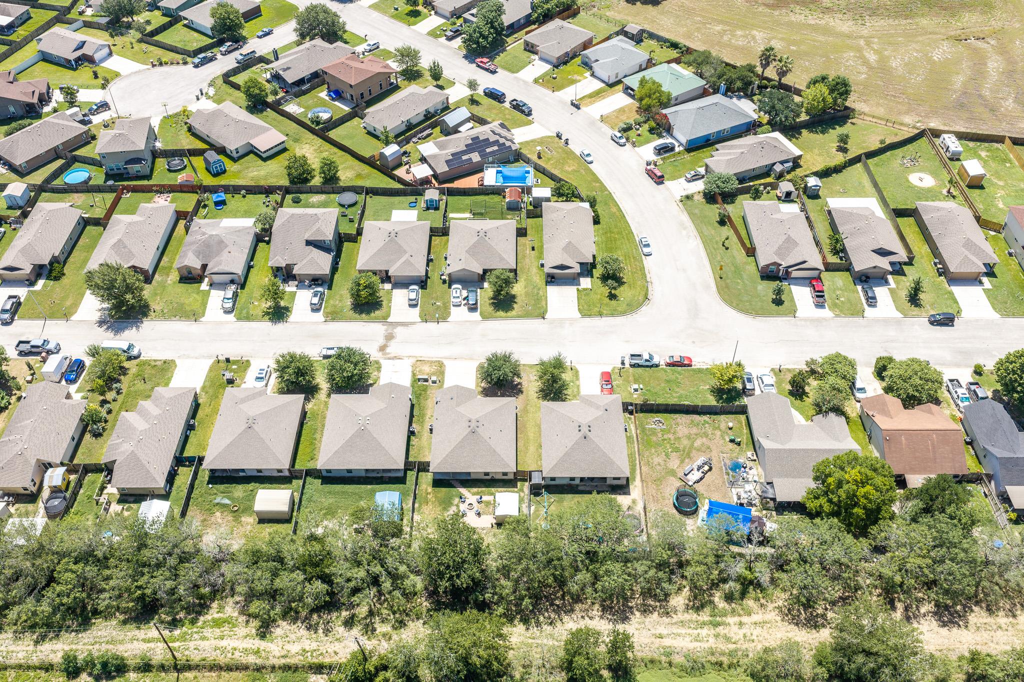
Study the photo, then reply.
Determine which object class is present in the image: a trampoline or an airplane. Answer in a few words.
trampoline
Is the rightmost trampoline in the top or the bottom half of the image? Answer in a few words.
bottom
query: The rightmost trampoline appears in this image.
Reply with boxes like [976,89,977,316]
[673,485,702,516]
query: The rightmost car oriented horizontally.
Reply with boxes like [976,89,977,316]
[927,312,958,326]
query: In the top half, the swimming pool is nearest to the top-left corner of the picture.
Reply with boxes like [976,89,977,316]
[61,168,91,185]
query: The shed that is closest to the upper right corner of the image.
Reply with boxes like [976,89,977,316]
[963,165,990,186]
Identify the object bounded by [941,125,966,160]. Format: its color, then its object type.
white vehicle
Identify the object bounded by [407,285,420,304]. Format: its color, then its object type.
white vehicle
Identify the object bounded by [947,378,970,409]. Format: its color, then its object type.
white truck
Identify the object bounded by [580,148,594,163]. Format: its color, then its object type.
white car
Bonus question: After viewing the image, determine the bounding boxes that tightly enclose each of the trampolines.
[623,506,648,529]
[35,494,66,524]
[165,155,184,172]
[673,485,702,516]
[336,195,357,210]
